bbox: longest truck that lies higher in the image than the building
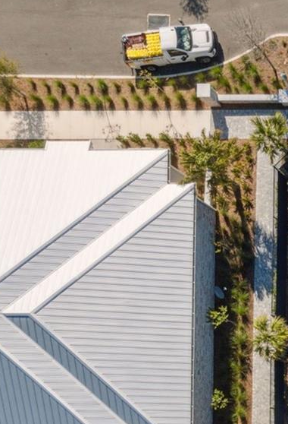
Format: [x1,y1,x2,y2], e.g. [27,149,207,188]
[119,19,219,70]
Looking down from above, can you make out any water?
No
